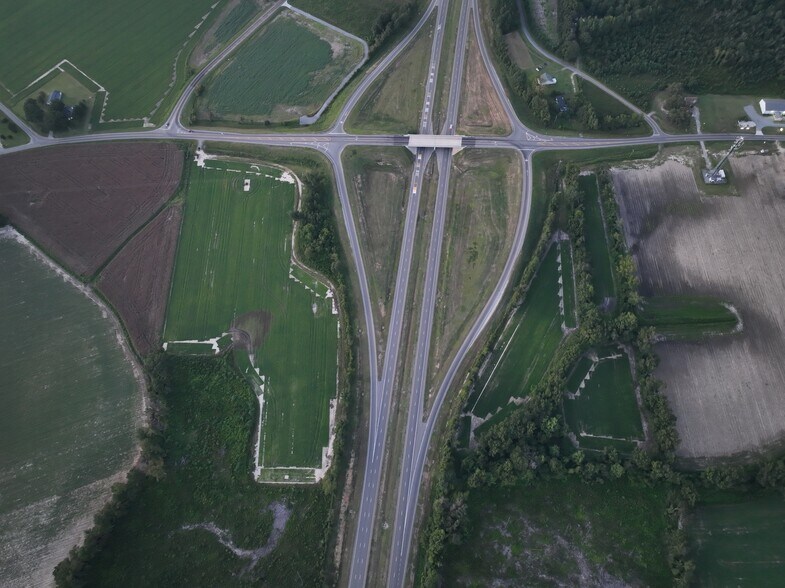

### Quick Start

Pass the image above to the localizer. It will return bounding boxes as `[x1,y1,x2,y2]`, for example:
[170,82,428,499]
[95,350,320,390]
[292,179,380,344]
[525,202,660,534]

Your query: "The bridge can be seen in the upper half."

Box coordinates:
[405,133,467,155]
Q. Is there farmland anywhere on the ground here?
Yes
